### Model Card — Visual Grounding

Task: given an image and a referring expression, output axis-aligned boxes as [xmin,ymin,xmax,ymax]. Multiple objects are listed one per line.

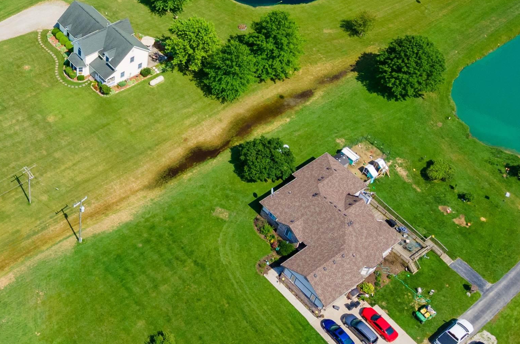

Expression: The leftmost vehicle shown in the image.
[319,316,355,344]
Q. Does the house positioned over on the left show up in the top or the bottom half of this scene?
top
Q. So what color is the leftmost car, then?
blue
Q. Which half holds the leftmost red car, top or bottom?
bottom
